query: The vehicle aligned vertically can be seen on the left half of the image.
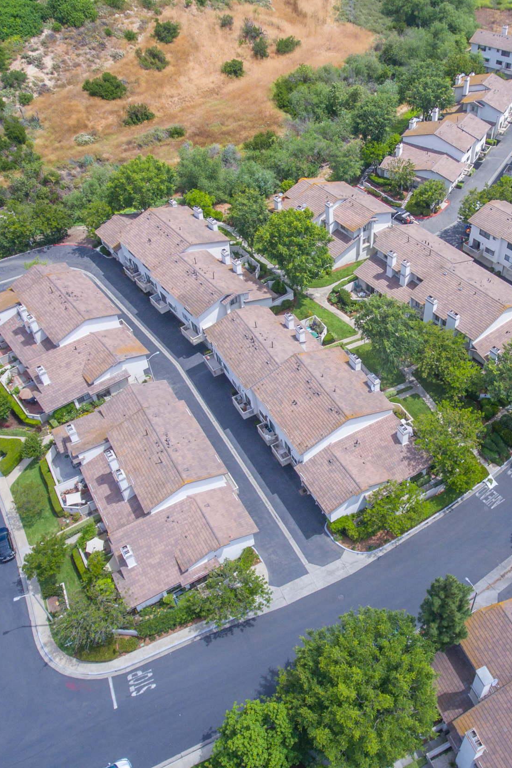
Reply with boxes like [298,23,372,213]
[0,526,16,563]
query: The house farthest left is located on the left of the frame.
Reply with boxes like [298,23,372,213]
[0,262,151,417]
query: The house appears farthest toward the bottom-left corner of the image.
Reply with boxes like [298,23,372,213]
[61,379,262,630]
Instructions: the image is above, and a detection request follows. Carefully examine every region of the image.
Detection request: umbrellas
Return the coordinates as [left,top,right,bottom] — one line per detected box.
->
[19,389,35,406]
[86,538,104,555]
